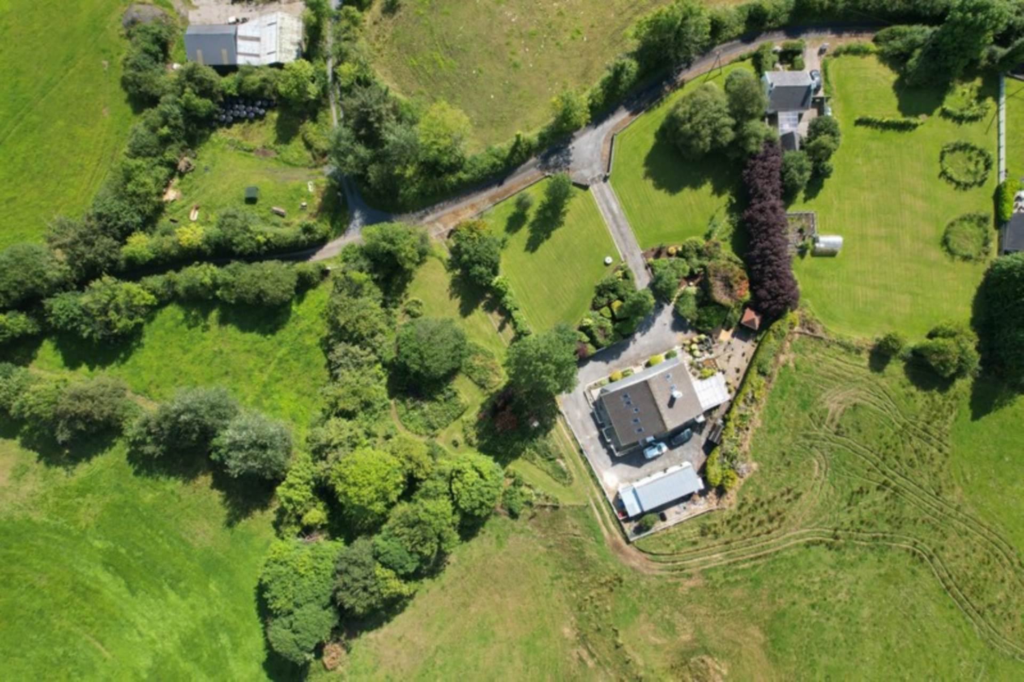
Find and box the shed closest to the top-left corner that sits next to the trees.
[184,25,241,72]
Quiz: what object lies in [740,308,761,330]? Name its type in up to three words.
gazebo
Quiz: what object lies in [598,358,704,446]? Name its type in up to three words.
house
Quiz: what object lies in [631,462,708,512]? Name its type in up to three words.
building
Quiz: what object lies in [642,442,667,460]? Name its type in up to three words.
car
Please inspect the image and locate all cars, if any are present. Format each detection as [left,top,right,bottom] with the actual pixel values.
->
[642,442,667,460]
[668,429,693,447]
[809,69,822,93]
